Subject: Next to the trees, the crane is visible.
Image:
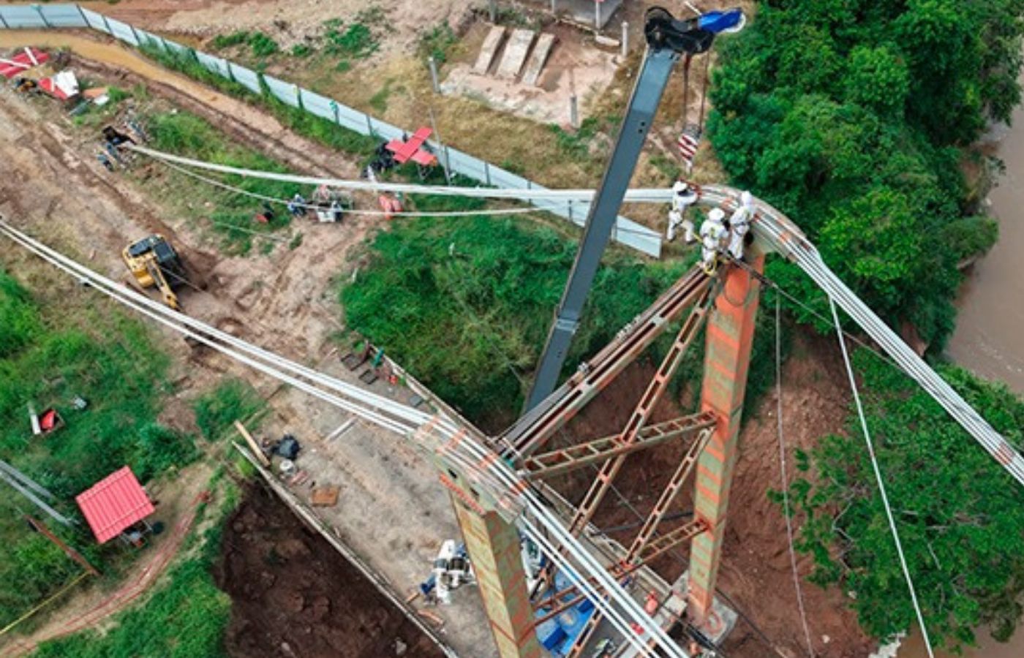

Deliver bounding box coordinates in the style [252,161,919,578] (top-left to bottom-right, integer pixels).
[408,0,721,658]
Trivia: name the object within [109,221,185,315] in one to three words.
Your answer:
work vehicle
